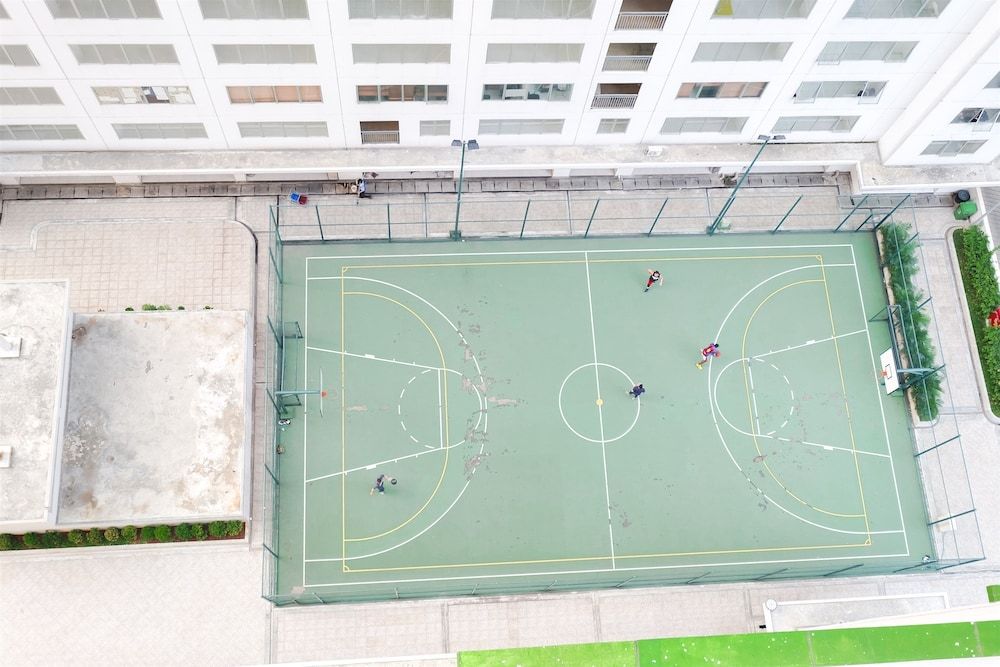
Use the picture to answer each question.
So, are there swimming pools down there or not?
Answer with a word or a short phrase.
No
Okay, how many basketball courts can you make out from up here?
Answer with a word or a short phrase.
one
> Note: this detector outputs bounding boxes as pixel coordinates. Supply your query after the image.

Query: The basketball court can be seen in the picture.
[277,233,938,606]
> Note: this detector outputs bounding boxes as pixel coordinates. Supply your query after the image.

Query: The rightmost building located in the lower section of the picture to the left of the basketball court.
[58,309,256,527]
